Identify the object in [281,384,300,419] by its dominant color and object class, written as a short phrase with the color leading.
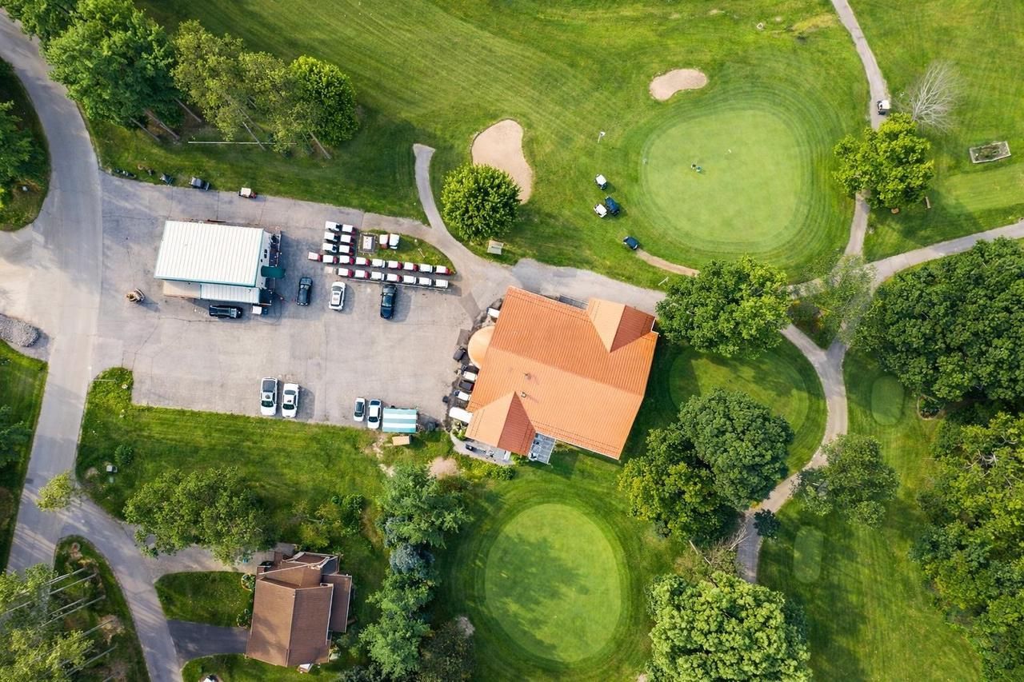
white car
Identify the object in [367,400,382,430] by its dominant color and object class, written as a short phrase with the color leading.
white car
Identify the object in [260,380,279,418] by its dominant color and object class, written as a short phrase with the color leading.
white vehicle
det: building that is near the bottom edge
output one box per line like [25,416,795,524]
[245,546,354,667]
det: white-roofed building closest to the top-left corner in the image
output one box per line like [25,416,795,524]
[154,221,290,306]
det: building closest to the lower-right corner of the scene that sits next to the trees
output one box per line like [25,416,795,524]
[466,285,658,464]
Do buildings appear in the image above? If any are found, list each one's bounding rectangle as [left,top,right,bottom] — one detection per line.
[245,546,354,667]
[154,221,290,306]
[466,285,658,464]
